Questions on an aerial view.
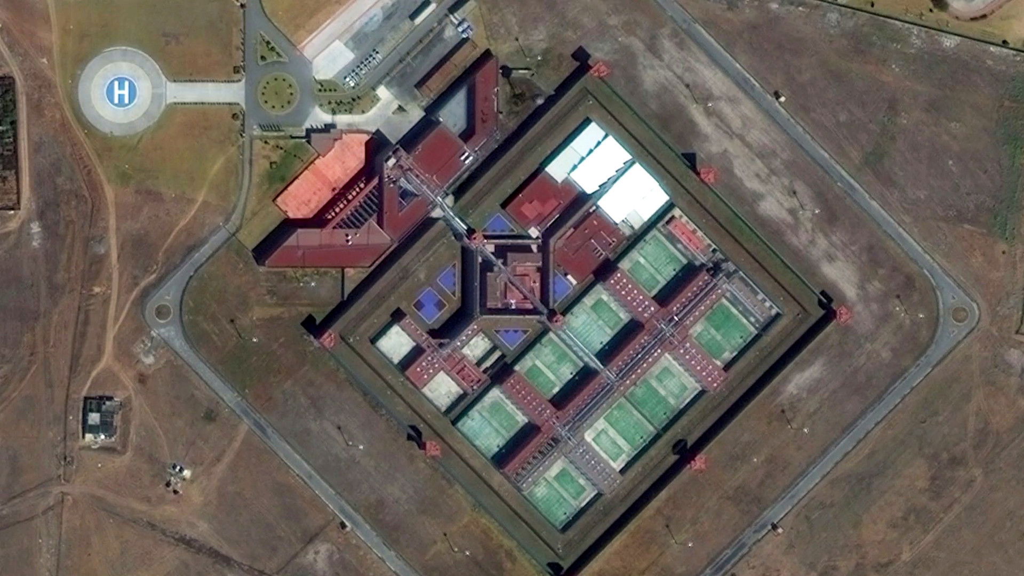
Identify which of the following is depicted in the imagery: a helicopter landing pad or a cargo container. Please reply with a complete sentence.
Of the two, only a helicopter landing pad appears.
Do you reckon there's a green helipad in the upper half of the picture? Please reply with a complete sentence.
No, there is no green helipad in the upper half of the picture.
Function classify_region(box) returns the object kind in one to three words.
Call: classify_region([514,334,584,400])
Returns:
sports court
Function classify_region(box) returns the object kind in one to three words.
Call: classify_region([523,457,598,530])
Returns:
sports court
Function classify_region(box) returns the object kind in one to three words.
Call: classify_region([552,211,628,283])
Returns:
building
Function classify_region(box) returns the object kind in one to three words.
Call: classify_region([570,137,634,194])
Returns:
building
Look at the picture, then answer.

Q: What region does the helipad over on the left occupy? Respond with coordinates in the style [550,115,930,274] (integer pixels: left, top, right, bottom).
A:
[78,46,165,135]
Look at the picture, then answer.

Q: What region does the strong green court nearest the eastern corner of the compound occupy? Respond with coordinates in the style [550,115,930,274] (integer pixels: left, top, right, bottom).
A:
[693,297,759,366]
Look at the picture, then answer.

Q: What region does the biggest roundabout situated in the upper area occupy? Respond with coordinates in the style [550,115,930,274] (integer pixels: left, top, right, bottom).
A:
[257,72,299,114]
